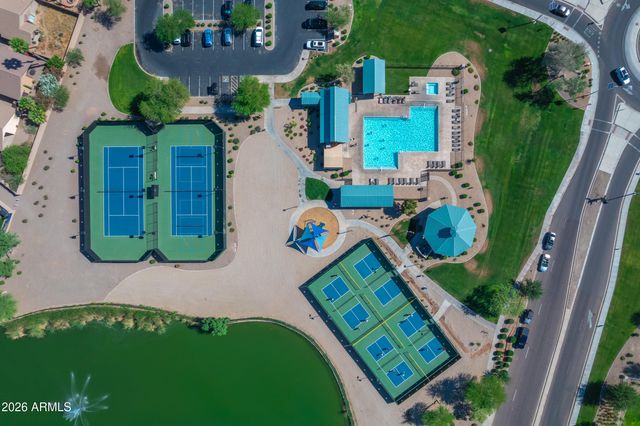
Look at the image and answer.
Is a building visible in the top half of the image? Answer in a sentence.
Yes, there is a building in the top half of the image.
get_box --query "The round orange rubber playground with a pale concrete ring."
[289,202,345,258]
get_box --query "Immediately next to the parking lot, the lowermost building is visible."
[302,84,349,143]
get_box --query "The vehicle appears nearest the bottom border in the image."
[516,326,529,349]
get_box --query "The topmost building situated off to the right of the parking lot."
[363,57,386,96]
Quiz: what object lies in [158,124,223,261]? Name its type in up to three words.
tennis court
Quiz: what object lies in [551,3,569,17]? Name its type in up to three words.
vehicle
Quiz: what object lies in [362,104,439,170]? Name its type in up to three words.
swimming pool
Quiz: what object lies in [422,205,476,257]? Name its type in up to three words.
building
